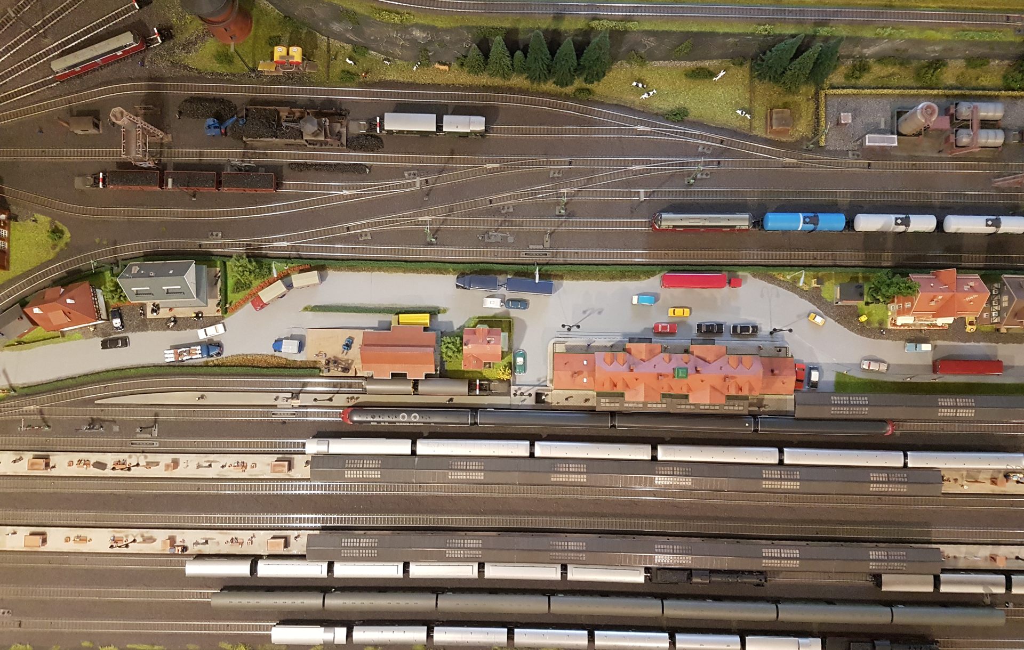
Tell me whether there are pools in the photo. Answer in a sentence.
No, the scene contains no pool.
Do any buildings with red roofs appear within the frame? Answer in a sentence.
Yes, there's a building with a red roof here.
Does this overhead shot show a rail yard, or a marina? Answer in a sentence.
This image shows a rail yard.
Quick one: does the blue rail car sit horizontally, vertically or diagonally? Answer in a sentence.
In this picture, the blue rail car is oriented horizontally.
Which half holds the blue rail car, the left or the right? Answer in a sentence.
The blue rail car is on the right side of the image.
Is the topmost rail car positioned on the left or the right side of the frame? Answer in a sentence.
It is on the left.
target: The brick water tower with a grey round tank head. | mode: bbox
[179,0,253,48]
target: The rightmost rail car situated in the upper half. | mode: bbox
[934,216,1024,238]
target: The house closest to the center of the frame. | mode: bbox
[461,326,510,373]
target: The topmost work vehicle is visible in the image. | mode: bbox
[204,115,241,136]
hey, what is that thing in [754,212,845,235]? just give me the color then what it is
blue rail car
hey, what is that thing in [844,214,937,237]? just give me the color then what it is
white rail car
